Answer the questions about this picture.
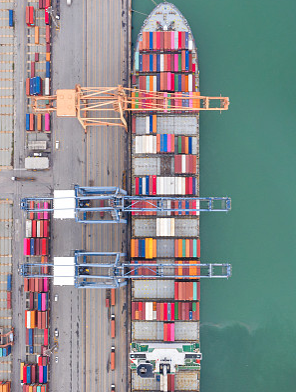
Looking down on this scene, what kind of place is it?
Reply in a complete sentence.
The picture captures a port.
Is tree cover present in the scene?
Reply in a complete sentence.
No, there's no tree cover in this view.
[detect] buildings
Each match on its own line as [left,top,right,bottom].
[25,157,49,169]
[27,141,46,149]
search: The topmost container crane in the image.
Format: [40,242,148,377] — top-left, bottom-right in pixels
[19,87,234,136]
